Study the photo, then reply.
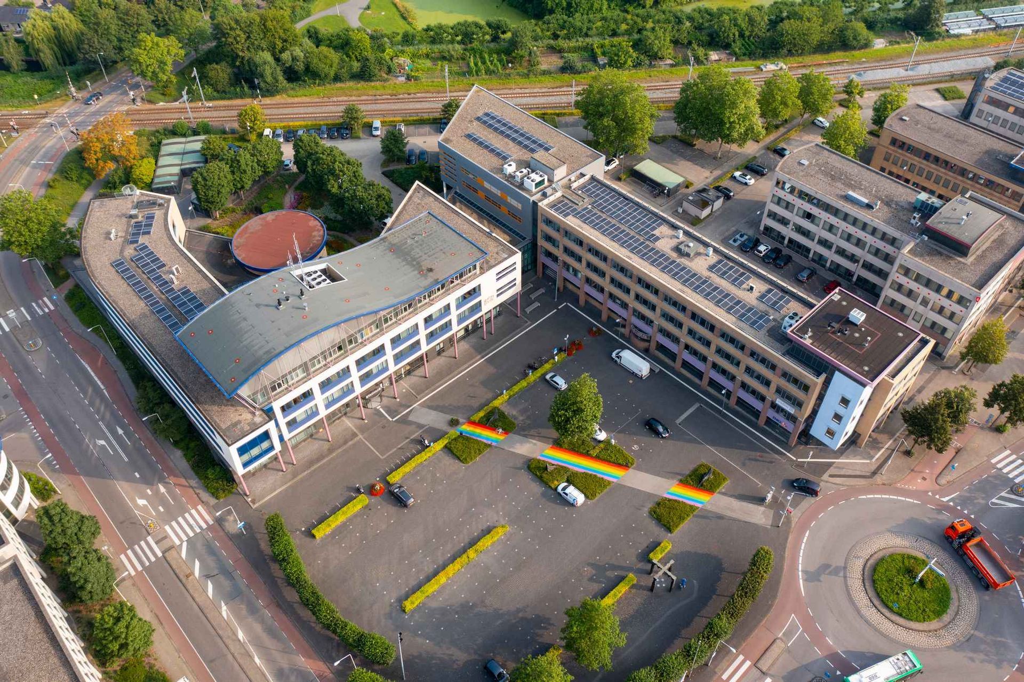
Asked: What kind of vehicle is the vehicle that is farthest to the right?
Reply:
truck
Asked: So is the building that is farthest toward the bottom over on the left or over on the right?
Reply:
left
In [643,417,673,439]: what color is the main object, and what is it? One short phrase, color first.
black car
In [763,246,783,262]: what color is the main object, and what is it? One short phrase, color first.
black car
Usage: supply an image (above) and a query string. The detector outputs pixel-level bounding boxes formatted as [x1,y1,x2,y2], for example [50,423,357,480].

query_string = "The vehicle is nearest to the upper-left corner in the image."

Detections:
[83,91,102,103]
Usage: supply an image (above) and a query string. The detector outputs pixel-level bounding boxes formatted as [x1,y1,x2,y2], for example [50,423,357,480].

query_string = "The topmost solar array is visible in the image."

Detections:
[991,70,1024,101]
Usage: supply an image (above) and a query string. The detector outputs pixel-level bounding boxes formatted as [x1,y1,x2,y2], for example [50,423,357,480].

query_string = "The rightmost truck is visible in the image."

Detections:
[944,519,1015,585]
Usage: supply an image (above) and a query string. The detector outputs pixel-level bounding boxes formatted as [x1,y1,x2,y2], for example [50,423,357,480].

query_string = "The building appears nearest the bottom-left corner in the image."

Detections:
[0,506,103,682]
